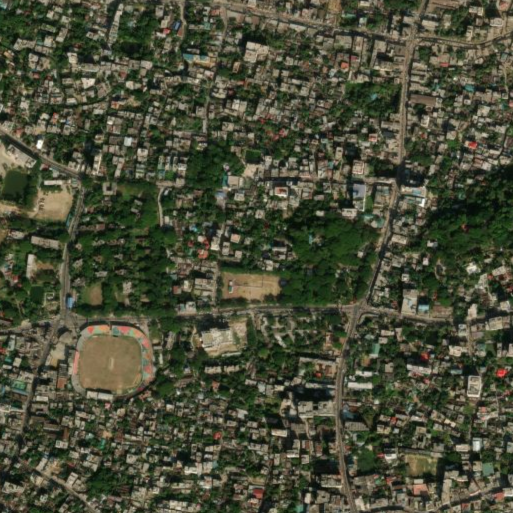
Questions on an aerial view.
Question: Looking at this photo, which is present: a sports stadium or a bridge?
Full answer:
It is a sports stadium that can be seen here.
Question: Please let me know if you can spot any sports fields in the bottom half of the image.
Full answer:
Yes, a sports field can be seen in the bottom half of the image.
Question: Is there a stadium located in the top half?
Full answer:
No, I see no stadium in the top half.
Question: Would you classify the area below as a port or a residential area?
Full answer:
This looks like a residential area.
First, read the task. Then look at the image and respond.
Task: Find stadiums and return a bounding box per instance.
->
[72,325,154,401]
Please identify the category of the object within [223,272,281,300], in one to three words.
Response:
sports field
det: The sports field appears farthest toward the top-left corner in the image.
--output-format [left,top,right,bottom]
[37,189,73,221]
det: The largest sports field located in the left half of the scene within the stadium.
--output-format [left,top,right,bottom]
[78,336,141,396]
